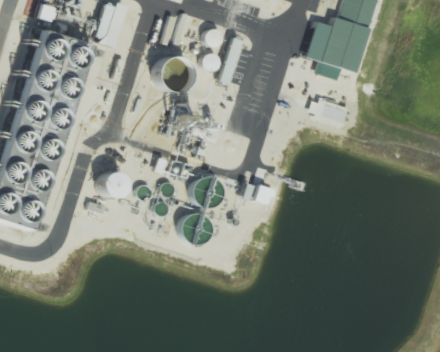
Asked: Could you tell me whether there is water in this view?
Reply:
Yes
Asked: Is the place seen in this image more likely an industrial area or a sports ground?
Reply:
industrial area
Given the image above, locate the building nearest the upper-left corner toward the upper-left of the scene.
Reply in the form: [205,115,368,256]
[32,4,56,22]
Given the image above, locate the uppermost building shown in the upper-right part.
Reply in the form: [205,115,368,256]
[335,0,378,26]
